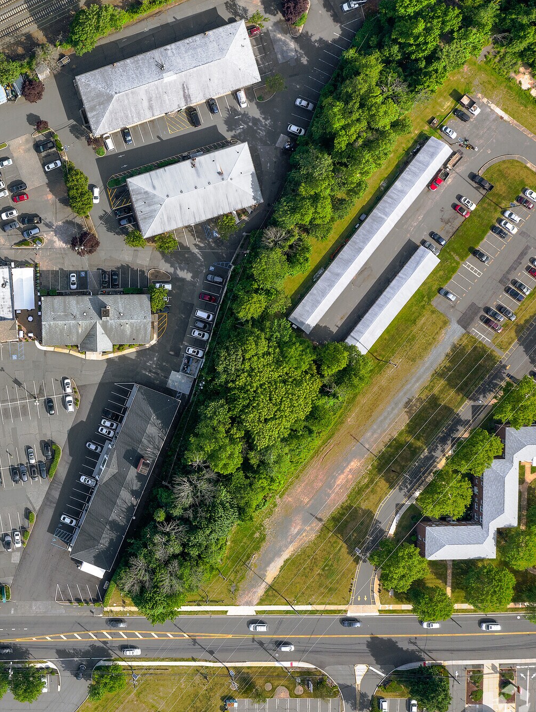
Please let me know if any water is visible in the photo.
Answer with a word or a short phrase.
No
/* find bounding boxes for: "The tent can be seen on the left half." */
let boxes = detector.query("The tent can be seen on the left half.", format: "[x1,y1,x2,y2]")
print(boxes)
[11,267,35,309]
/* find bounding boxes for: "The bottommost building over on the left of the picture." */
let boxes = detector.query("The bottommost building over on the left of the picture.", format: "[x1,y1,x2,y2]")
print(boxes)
[70,384,181,577]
